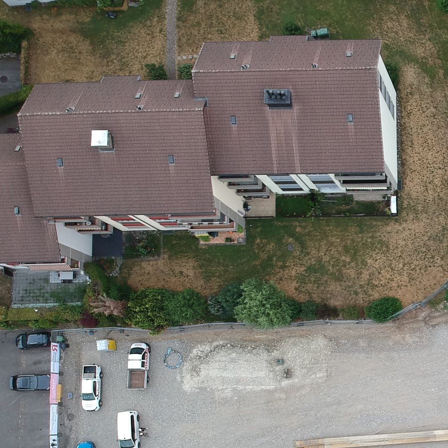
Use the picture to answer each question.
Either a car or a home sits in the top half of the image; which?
home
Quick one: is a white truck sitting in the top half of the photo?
No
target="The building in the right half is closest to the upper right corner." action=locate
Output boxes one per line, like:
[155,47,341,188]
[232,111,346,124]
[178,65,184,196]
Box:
[189,36,394,193]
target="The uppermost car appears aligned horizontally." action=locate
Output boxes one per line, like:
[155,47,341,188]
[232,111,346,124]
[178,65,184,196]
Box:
[14,331,53,351]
